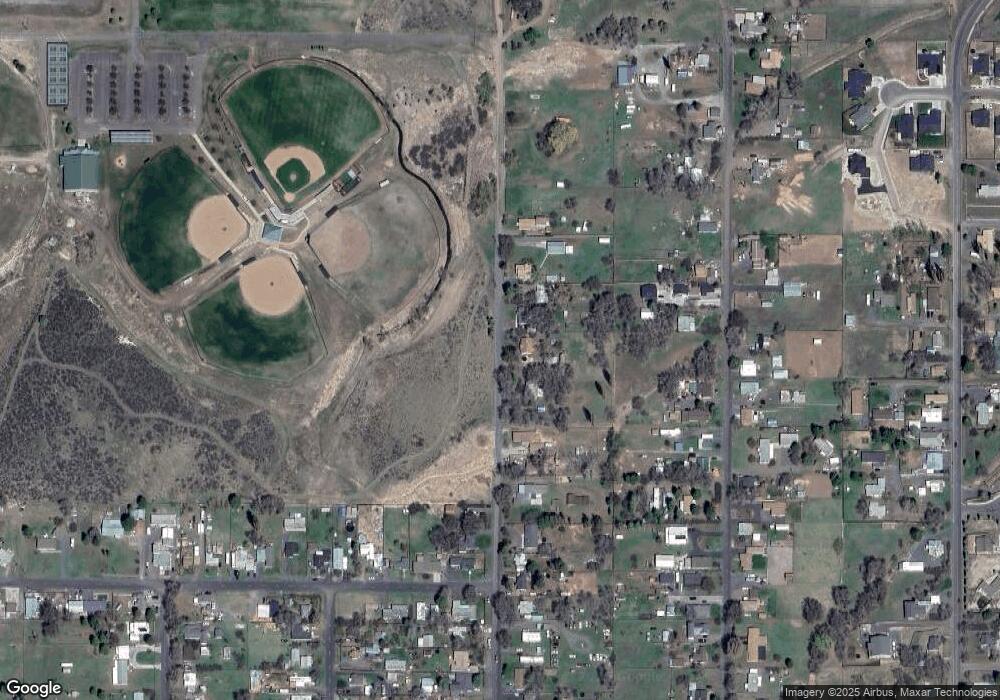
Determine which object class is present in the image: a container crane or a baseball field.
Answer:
baseball field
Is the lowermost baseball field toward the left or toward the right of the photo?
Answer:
left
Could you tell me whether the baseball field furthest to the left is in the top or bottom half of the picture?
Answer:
top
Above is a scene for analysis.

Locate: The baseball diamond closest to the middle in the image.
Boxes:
[308,183,439,322]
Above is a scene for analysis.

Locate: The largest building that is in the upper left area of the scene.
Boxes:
[61,149,99,191]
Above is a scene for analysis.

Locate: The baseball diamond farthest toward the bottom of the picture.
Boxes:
[184,253,326,383]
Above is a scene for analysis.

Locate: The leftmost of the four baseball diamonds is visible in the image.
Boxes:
[118,145,250,294]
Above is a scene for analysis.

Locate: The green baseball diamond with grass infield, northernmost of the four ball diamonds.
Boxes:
[220,58,389,213]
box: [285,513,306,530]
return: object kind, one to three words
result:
house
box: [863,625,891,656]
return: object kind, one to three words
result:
house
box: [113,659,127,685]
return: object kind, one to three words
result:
barn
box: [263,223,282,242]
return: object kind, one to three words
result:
building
